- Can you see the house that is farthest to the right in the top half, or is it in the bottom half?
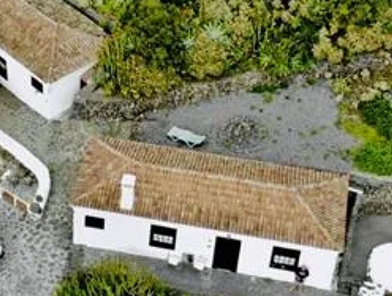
bottom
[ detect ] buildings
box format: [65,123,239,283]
[0,0,108,124]
[70,134,351,285]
